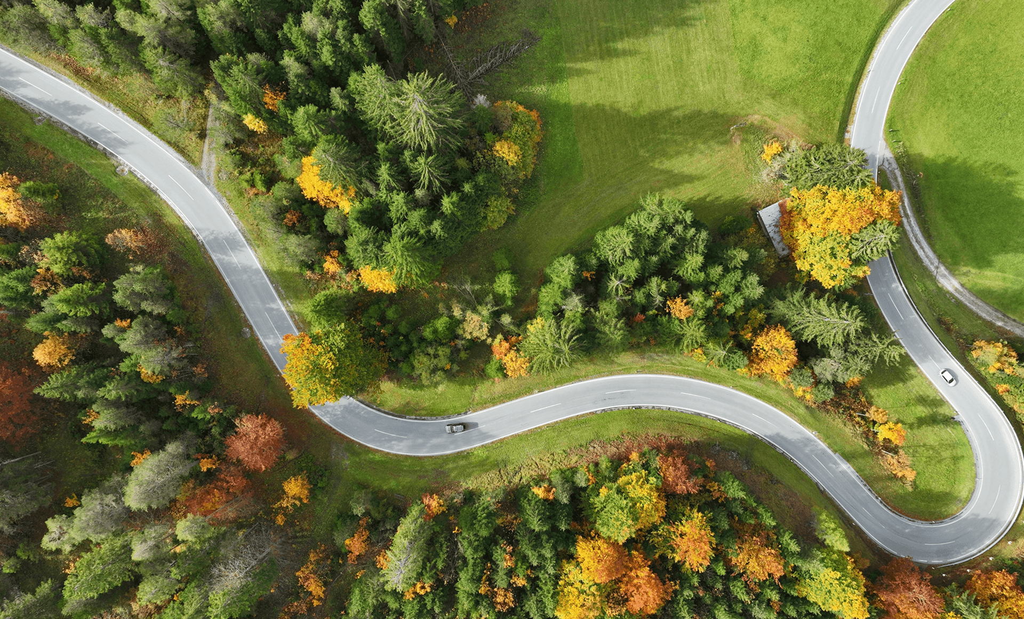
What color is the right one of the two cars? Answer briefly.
white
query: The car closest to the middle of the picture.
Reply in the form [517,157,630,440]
[446,422,466,434]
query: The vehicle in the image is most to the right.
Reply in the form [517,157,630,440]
[937,367,957,387]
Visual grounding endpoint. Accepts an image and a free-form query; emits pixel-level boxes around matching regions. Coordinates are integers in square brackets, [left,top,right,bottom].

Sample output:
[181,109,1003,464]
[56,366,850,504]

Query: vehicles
[937,367,957,387]
[446,422,466,434]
